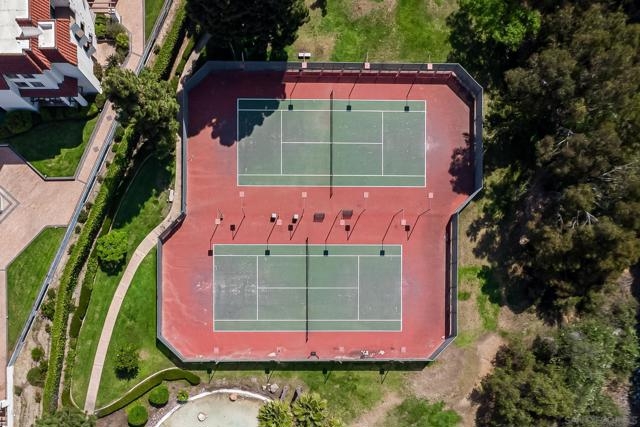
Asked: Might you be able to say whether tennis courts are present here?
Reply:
Yes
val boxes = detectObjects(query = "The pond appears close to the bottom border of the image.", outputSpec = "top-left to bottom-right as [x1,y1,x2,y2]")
[158,392,295,427]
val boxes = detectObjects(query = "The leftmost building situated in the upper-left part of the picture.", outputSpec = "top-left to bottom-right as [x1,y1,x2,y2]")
[0,0,99,112]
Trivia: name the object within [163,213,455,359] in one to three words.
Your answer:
tennis court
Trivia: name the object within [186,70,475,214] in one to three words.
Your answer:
tennis court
